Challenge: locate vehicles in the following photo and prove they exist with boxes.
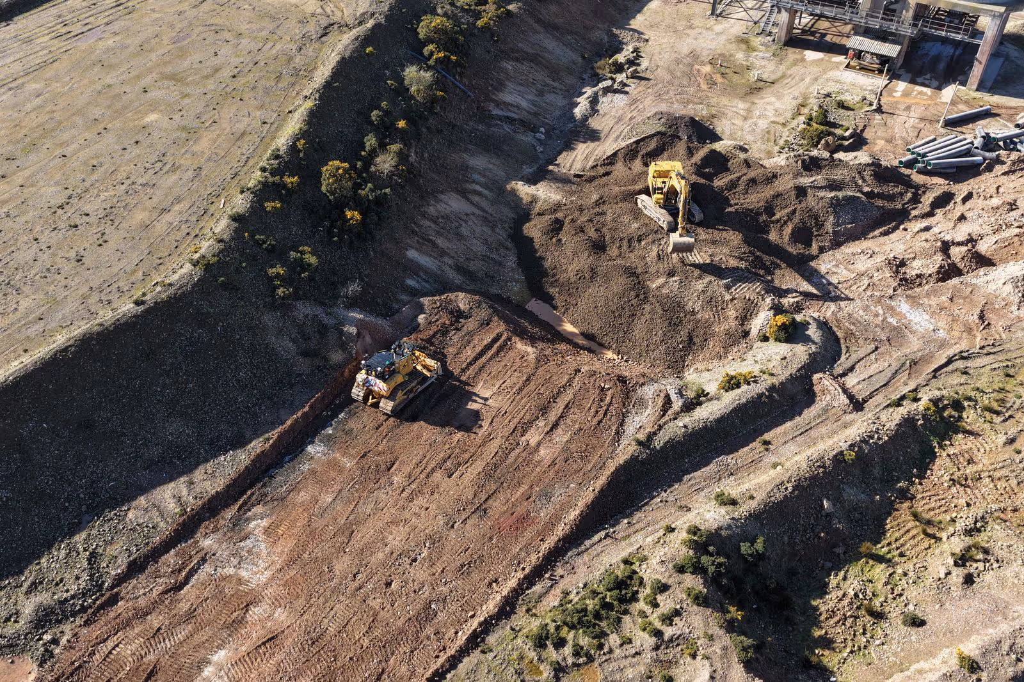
[357,337,450,414]
[634,158,708,255]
